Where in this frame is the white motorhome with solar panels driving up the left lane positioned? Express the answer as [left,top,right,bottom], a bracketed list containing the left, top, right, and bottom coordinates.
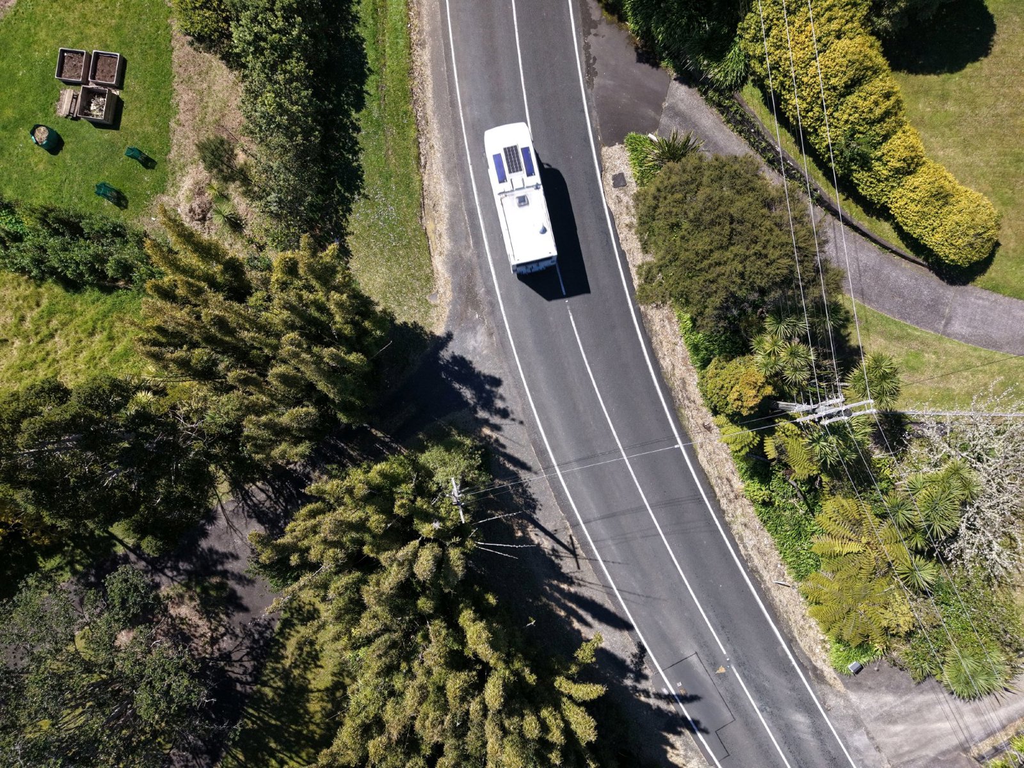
[488,122,559,280]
